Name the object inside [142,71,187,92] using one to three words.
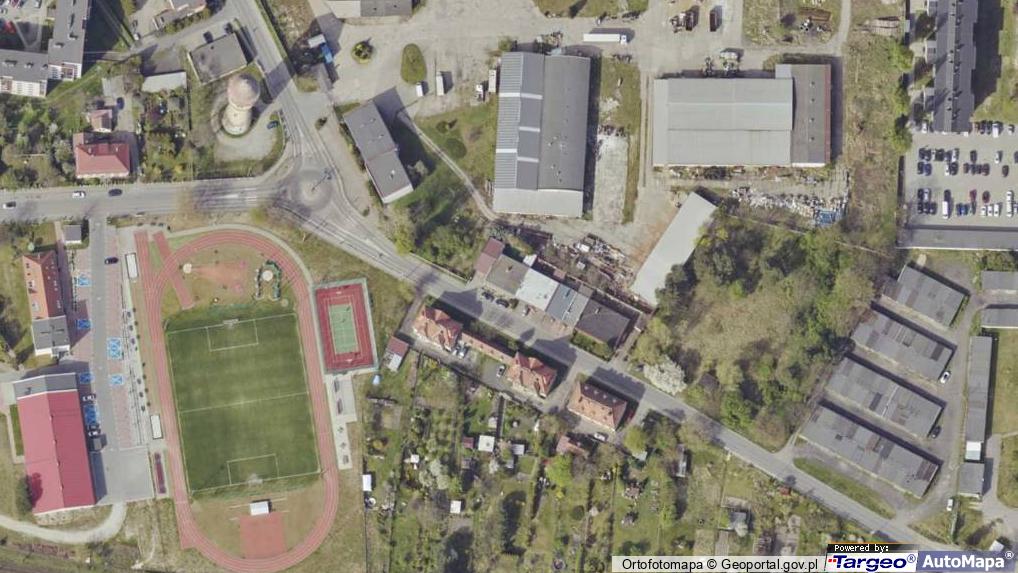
shed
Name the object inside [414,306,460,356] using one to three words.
house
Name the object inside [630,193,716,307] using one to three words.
shed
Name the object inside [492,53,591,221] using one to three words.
building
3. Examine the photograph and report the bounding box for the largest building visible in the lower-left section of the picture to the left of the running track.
[18,389,95,517]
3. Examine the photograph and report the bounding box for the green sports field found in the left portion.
[166,299,322,499]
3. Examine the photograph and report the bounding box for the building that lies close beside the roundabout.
[342,102,411,202]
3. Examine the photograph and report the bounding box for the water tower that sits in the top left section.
[219,75,259,139]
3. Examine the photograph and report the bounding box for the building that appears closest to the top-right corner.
[921,0,978,141]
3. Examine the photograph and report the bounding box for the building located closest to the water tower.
[189,33,247,87]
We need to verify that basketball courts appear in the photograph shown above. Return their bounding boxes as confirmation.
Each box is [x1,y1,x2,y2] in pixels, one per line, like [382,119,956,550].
[313,279,379,376]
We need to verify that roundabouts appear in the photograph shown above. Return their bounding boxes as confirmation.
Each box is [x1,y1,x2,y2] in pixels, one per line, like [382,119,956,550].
[279,159,345,221]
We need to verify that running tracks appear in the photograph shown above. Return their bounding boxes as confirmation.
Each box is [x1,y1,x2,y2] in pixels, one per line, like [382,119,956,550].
[134,231,340,573]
